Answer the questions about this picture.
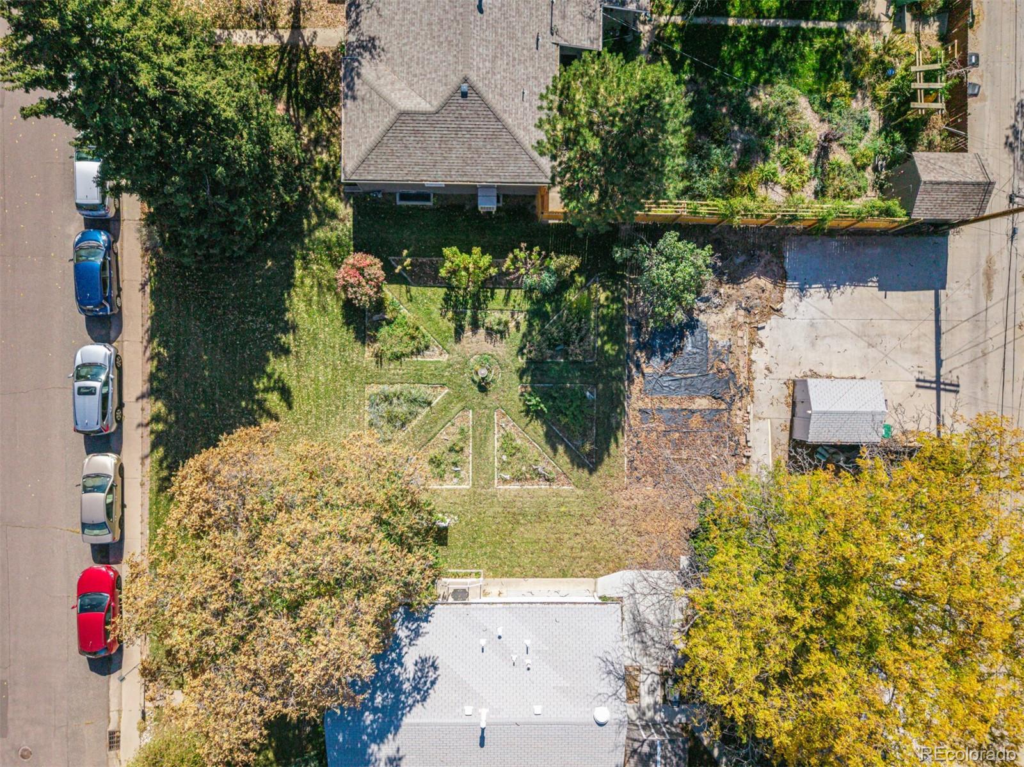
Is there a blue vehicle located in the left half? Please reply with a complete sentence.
Yes, I can see a blue vehicle in the left half.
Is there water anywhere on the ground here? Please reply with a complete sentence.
No, there's no water in this view.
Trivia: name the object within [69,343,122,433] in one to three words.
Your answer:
car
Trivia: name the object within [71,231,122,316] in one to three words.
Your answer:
car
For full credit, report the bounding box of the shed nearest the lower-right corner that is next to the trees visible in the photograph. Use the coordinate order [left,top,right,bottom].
[791,378,890,443]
